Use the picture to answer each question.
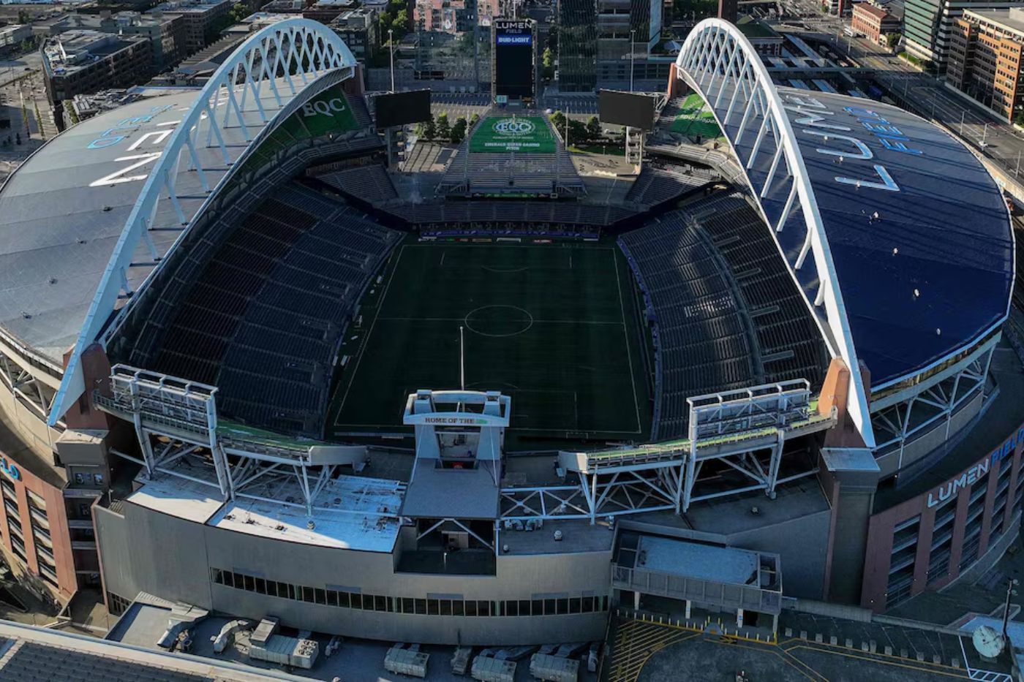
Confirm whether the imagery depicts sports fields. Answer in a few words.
Yes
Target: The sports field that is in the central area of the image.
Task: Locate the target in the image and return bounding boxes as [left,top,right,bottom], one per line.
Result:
[320,233,658,441]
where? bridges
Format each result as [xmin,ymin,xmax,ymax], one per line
[699,66,940,84]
